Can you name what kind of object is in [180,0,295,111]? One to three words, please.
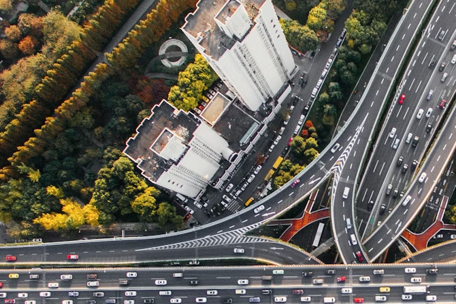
building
